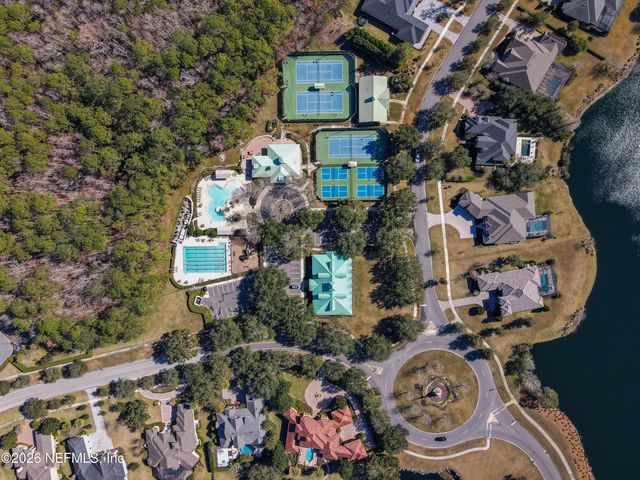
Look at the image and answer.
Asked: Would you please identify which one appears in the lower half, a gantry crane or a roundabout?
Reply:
roundabout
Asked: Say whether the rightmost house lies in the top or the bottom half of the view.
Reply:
top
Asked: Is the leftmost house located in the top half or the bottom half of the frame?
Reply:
bottom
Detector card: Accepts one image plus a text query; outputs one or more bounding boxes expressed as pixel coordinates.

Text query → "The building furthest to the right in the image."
[559,0,610,28]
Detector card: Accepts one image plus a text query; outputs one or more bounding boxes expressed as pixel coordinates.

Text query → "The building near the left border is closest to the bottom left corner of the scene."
[12,431,61,480]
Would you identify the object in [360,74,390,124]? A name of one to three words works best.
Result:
building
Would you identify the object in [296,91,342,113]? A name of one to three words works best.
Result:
tennis court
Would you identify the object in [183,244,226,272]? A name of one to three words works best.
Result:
swimming pool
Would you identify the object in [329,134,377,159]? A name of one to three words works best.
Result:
tennis court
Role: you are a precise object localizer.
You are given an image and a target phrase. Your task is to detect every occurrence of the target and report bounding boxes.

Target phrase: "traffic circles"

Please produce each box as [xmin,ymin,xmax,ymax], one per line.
[364,304,516,450]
